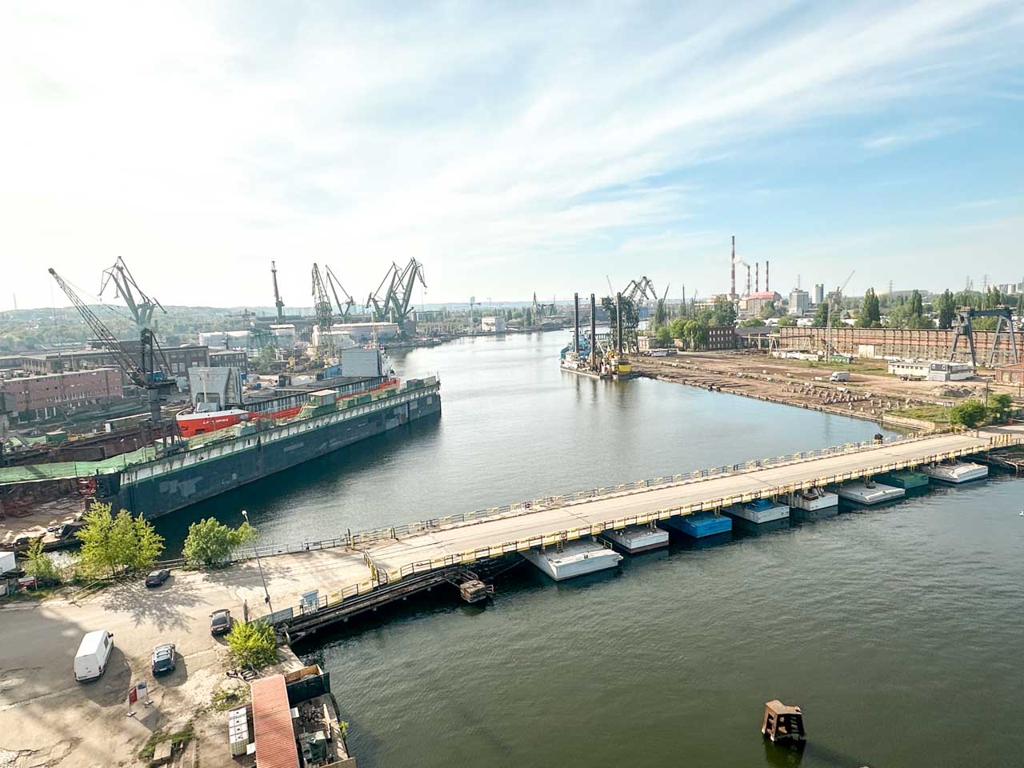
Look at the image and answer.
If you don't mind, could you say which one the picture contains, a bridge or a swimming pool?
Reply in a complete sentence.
It is a bridge that can be seen here.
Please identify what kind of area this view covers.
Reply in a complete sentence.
What you see here is a port.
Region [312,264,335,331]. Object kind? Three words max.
crane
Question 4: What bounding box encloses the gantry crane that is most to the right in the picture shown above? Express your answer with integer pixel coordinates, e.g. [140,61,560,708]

[947,302,1021,366]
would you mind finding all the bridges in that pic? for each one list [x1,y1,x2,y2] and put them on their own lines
[346,427,1018,590]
